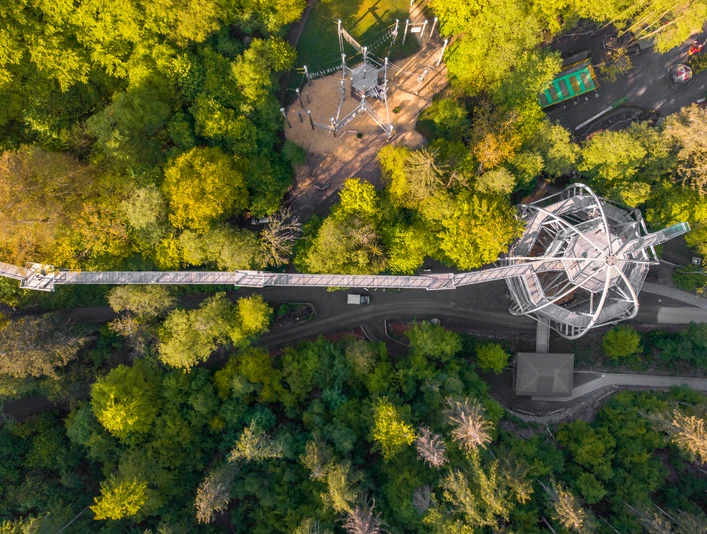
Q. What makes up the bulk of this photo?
trees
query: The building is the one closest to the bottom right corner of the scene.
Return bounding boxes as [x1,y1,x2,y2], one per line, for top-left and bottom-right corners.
[508,352,573,396]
